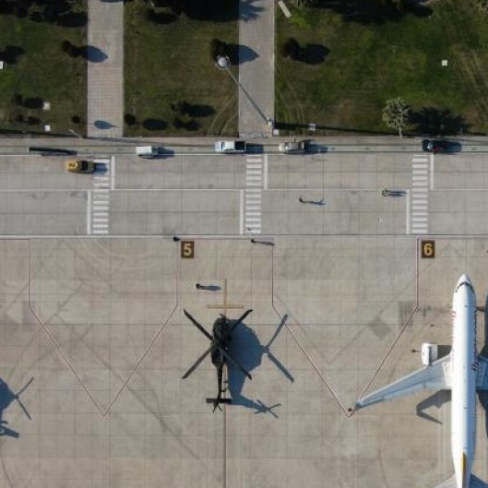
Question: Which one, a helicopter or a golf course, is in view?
helicopter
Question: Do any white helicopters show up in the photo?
No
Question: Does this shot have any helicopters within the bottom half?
Yes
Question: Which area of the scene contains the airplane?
bottom right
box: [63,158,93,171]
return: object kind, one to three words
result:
vehicle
